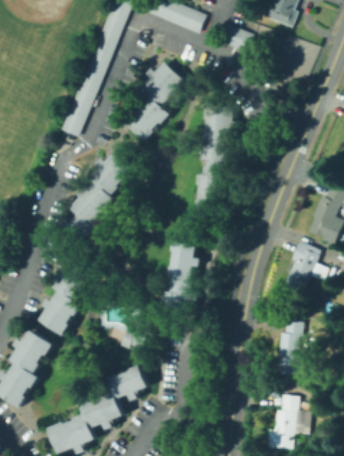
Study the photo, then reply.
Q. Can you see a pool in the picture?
Yes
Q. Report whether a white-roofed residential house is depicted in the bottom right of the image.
Yes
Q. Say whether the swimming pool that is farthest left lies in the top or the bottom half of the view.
bottom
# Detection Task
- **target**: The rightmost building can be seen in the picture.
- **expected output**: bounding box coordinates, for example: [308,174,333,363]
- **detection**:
[310,190,344,244]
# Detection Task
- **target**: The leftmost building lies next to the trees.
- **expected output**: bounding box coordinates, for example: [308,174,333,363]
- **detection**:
[0,332,50,408]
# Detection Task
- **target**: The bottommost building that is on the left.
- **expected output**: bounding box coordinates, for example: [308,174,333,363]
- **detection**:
[46,419,93,456]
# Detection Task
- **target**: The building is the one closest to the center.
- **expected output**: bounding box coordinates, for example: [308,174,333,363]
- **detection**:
[166,245,199,298]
